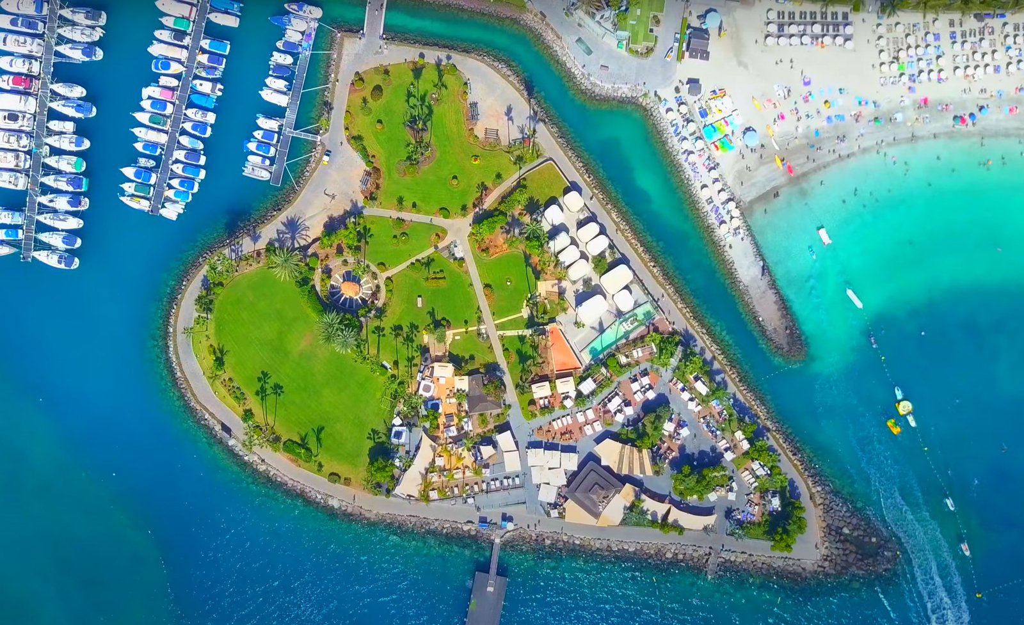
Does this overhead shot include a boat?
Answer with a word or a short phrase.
Yes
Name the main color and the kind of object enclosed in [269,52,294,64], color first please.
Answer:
white boat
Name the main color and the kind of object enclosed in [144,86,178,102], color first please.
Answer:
white boat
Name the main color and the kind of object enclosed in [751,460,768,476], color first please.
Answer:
white umbrella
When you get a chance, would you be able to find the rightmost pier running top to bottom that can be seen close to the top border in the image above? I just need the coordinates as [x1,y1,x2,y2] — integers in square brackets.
[270,17,318,186]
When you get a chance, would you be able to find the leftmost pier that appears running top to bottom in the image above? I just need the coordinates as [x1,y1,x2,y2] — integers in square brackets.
[21,0,61,262]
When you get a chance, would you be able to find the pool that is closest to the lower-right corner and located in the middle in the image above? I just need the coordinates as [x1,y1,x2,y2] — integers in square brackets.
[581,302,657,363]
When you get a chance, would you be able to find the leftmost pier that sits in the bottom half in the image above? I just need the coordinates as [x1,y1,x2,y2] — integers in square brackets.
[466,538,508,625]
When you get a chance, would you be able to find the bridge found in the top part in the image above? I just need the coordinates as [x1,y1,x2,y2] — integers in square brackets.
[363,0,385,38]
